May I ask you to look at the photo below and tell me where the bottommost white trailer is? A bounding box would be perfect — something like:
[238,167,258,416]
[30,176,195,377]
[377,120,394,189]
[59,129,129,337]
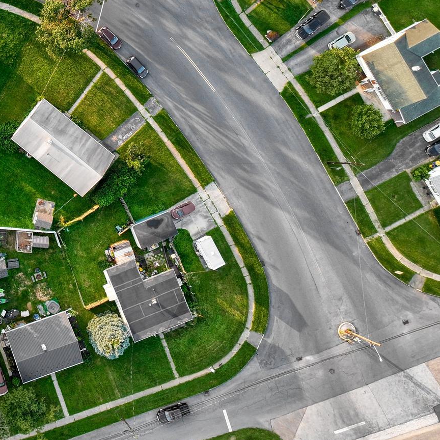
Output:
[193,232,223,269]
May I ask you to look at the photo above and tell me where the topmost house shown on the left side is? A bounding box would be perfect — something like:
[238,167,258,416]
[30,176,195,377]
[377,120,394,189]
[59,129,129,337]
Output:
[11,99,115,197]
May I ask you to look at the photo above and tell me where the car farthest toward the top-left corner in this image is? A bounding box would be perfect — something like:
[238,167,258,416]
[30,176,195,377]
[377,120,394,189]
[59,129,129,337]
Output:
[95,23,122,52]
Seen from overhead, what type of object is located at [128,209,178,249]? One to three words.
building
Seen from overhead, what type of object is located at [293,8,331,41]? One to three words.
truck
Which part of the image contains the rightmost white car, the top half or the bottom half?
top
